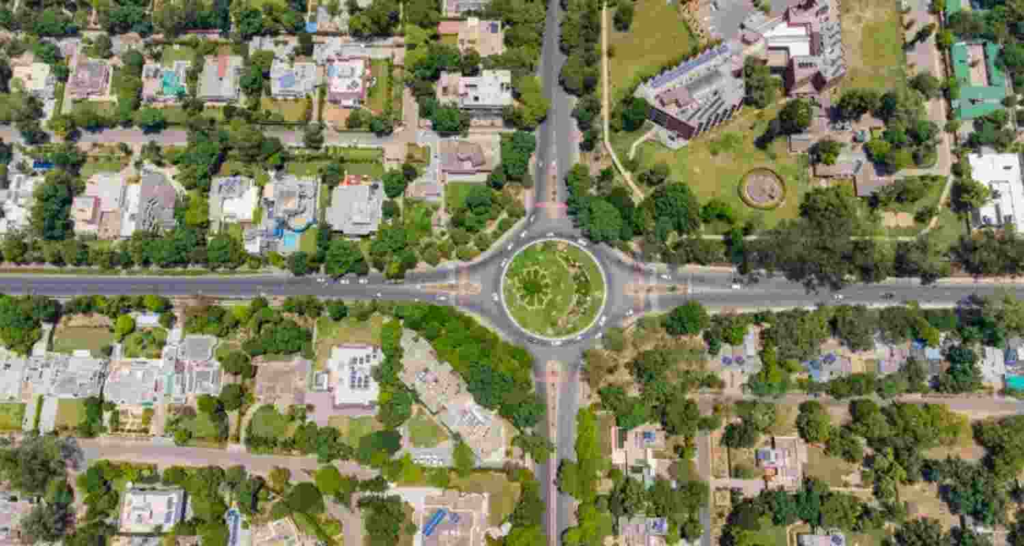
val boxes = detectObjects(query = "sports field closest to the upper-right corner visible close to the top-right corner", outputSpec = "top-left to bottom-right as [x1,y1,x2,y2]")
[843,0,902,91]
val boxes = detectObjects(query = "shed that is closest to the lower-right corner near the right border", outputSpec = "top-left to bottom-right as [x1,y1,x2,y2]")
[960,511,989,531]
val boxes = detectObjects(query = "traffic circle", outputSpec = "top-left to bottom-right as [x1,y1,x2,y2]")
[502,237,606,341]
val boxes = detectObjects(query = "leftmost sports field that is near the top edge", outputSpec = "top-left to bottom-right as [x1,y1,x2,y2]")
[607,0,683,87]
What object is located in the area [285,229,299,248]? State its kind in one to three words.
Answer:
swimming pool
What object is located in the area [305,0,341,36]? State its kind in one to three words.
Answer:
shed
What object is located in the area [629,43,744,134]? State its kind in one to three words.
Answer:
building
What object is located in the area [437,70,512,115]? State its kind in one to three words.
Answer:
house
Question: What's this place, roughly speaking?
residential area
